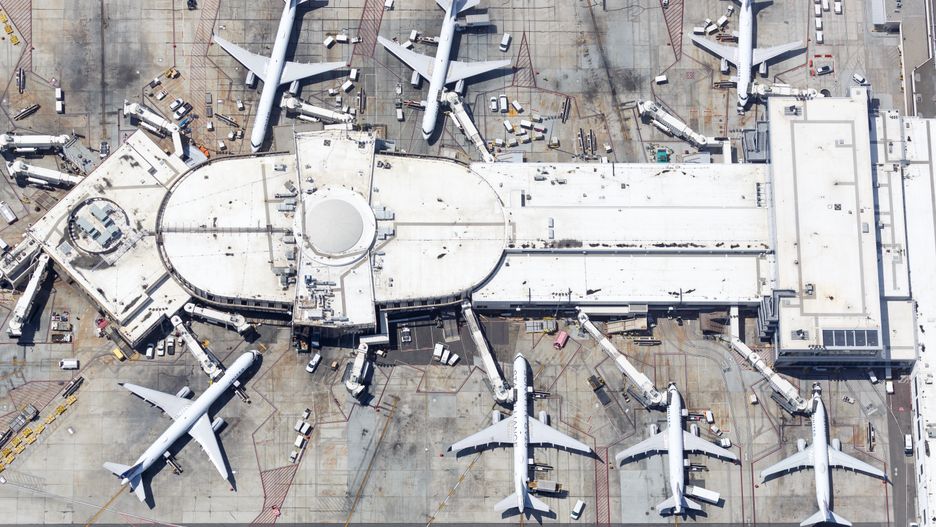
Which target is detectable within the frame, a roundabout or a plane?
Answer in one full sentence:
Visible in the photo is a plane.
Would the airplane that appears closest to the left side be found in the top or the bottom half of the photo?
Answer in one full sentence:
It is in the bottom half that the airplane that appears closest to the left side appears.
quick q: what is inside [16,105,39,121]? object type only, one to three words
work vehicle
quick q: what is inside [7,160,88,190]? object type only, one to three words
jet bridge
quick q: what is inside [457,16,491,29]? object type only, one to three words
vehicle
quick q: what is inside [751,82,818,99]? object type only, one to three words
jet bridge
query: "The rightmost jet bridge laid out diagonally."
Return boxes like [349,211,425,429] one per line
[730,337,815,412]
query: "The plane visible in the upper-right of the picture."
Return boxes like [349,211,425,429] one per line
[688,0,802,104]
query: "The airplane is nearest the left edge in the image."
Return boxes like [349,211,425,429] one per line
[105,353,258,500]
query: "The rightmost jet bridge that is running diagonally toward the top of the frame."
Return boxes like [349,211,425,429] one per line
[637,100,707,153]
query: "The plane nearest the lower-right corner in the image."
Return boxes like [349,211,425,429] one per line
[761,388,887,527]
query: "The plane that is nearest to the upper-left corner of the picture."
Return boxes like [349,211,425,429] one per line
[208,0,346,152]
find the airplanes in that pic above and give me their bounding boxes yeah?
[616,385,739,515]
[448,354,591,513]
[372,0,508,140]
[761,388,887,527]
[105,353,258,500]
[688,0,802,104]
[208,0,346,152]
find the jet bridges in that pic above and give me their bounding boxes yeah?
[185,303,251,336]
[7,160,88,190]
[730,337,815,412]
[125,101,180,137]
[170,315,225,383]
[344,342,369,396]
[440,90,495,163]
[578,313,668,406]
[637,100,707,153]
[462,301,516,403]
[8,253,53,336]
[278,93,356,128]
[751,82,818,99]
